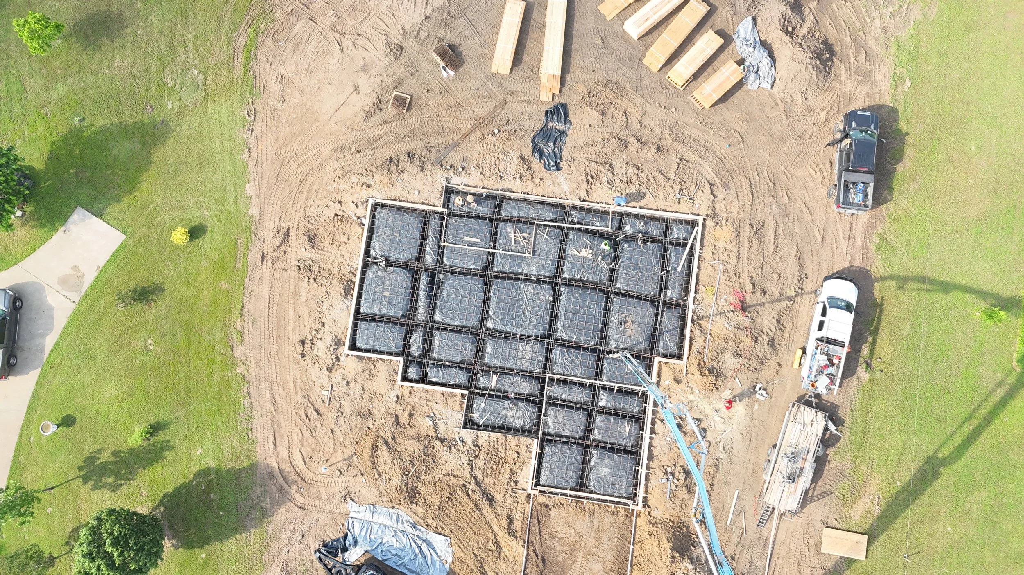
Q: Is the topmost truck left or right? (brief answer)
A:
right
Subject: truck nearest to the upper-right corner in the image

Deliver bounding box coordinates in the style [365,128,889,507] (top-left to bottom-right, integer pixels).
[817,108,885,214]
